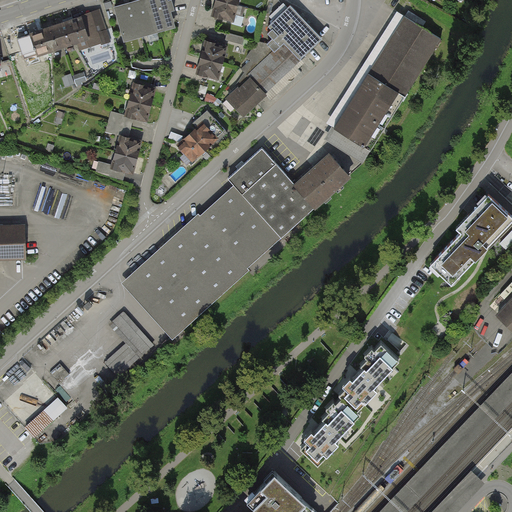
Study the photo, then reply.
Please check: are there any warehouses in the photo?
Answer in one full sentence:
Yes, there's a warehouse down there.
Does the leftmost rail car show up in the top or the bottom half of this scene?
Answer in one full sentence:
It is in the bottom half that the leftmost rail car appears.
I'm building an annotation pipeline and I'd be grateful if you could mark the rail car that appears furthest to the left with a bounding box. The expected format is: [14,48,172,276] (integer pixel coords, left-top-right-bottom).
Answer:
[354,484,386,512]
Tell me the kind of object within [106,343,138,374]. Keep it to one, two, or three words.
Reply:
shed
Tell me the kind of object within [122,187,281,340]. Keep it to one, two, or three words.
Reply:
warehouse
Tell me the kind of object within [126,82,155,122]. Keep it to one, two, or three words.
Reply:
house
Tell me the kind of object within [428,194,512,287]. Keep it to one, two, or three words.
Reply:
building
